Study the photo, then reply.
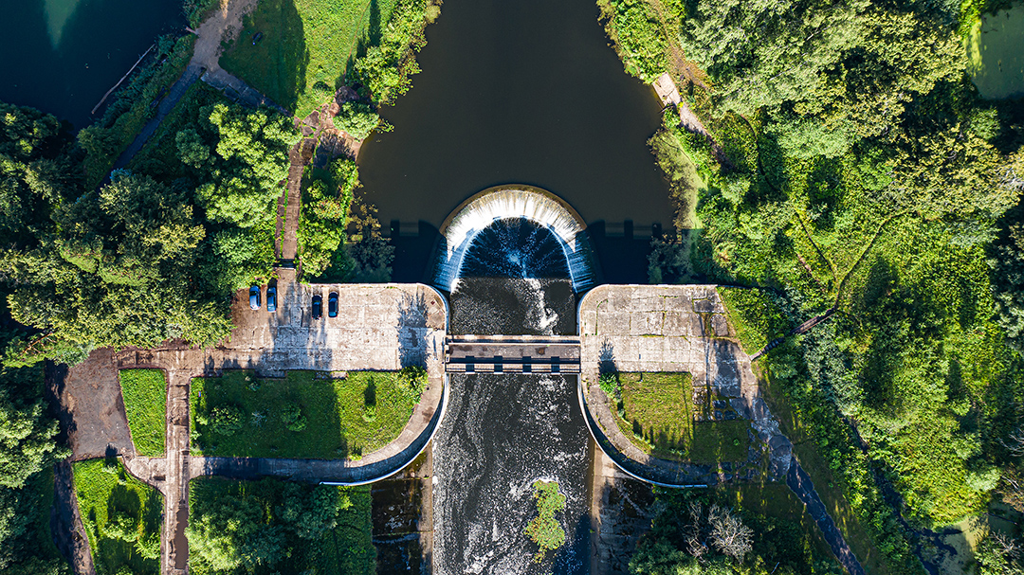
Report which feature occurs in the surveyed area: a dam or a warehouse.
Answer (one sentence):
Of the two, only a dam appears.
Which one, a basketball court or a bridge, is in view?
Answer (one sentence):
The image shows a bridge.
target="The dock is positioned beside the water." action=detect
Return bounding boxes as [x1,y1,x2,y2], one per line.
[650,73,679,112]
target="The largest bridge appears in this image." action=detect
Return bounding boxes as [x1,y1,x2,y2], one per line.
[447,335,580,374]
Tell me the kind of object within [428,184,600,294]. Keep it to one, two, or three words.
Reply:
dam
